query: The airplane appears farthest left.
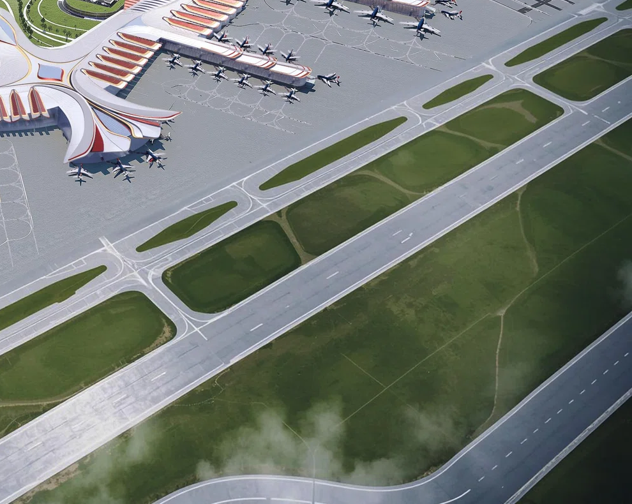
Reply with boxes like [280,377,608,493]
[68,164,92,180]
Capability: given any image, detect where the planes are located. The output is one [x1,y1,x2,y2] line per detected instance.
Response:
[401,17,440,34]
[146,151,166,164]
[218,28,233,42]
[317,73,341,84]
[209,67,230,79]
[114,158,135,172]
[163,54,183,65]
[233,74,251,86]
[162,116,186,129]
[278,89,300,101]
[259,40,276,54]
[314,0,350,10]
[236,34,256,48]
[254,80,275,92]
[357,5,394,22]
[68,164,92,180]
[281,48,297,60]
[184,61,206,72]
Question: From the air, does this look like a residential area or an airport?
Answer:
airport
